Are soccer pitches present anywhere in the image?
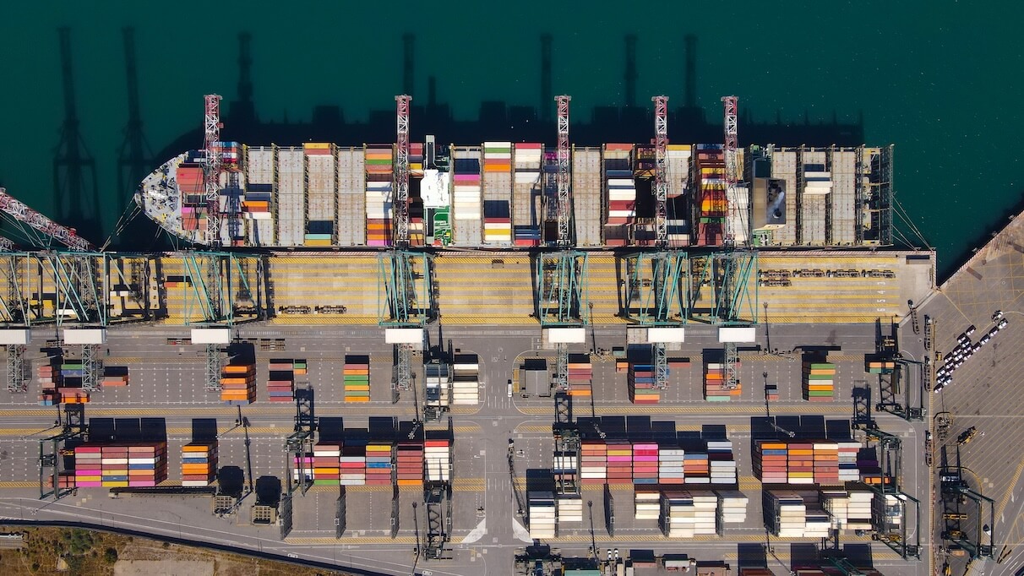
No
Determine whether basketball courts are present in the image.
No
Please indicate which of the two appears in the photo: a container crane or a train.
container crane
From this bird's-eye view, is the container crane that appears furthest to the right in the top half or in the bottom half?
bottom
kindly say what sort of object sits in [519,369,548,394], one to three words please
shed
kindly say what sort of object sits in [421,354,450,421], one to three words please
container crane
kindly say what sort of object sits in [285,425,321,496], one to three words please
container crane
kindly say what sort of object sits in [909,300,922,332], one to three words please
vehicle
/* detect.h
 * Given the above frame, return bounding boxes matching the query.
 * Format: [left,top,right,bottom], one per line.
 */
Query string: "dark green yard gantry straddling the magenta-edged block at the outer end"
[37,429,89,497]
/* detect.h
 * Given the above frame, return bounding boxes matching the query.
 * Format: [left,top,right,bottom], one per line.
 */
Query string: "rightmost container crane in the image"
[946,492,999,564]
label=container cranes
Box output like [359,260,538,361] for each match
[556,424,584,495]
[529,93,587,393]
[0,192,171,395]
[879,356,926,420]
[677,92,757,393]
[423,487,452,560]
[175,94,278,395]
[0,233,107,395]
[946,492,999,564]
[37,429,89,497]
[613,93,685,393]
[421,354,450,421]
[285,425,321,496]
[876,486,923,558]
[856,423,901,494]
[378,94,445,394]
